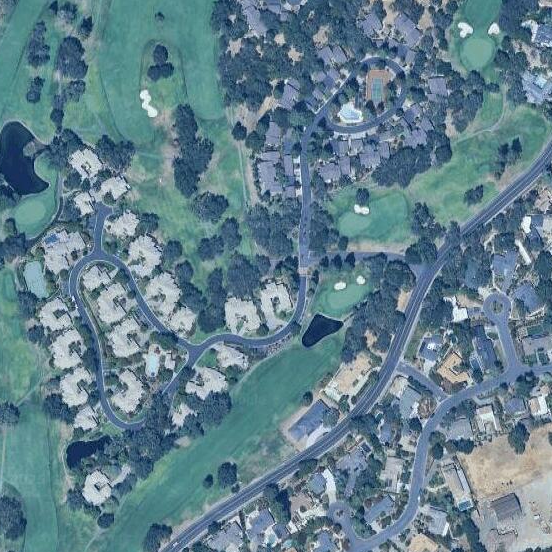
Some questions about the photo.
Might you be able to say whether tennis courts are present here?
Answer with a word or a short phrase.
Yes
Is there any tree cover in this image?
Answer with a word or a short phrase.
Yes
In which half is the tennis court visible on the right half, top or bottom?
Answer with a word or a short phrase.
top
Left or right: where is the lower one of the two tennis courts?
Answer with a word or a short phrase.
left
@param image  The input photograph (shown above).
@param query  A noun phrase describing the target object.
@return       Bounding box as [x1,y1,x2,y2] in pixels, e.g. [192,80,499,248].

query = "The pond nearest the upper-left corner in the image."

[0,121,49,197]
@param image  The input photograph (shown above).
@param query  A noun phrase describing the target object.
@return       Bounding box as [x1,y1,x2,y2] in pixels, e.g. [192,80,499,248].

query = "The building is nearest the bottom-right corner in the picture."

[490,493,523,522]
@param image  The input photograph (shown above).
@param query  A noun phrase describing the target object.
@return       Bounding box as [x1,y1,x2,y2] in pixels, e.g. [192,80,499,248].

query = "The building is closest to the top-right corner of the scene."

[534,23,552,45]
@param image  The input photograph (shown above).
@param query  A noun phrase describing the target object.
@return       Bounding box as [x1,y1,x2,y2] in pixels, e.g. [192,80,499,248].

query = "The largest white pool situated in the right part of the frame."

[339,103,362,123]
